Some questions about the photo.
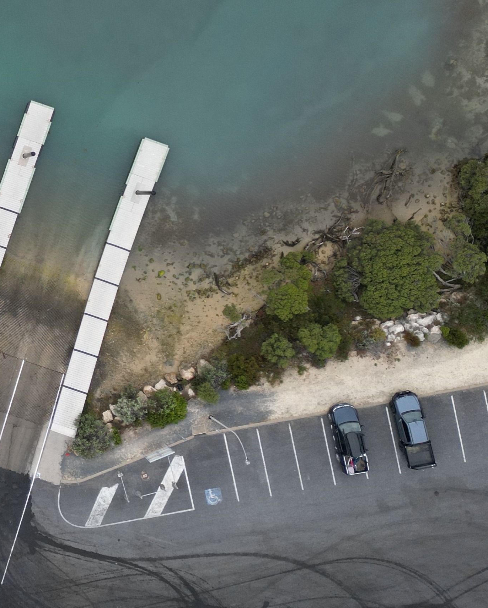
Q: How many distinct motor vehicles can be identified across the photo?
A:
2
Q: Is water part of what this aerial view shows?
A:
Yes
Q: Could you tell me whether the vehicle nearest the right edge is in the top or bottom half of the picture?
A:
bottom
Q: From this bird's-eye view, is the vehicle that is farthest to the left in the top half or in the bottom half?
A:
bottom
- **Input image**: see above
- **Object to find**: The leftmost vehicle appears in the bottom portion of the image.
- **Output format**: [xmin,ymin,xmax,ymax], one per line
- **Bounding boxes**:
[327,403,375,478]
